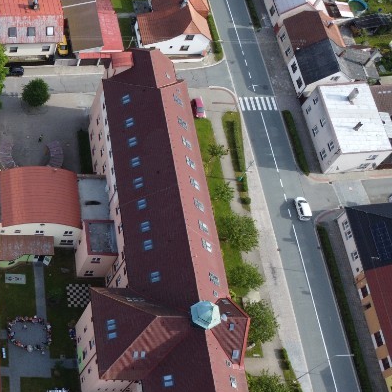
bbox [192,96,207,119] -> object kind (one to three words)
car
